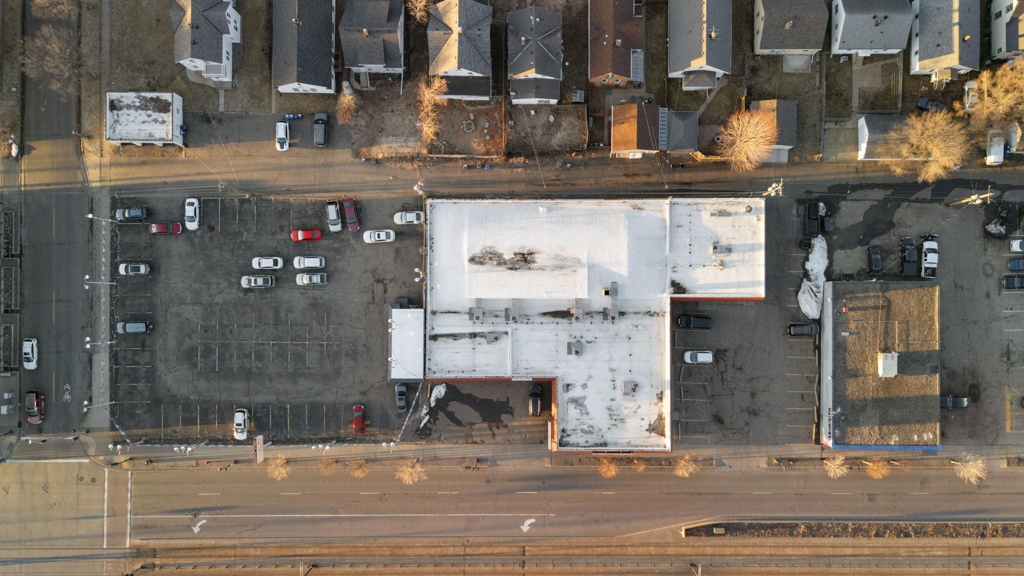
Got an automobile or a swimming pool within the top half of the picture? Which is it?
automobile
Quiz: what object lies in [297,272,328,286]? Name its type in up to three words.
car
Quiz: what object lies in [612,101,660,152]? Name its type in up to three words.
building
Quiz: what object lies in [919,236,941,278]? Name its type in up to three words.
truck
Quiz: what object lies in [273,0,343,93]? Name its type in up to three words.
house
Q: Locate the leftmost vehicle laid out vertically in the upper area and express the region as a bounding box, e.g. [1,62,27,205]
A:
[186,199,201,230]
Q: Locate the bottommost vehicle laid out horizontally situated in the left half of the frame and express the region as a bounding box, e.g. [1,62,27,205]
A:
[119,320,152,335]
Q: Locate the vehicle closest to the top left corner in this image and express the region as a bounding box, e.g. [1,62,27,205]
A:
[118,207,149,222]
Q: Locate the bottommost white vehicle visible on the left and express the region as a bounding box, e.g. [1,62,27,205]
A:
[233,408,250,438]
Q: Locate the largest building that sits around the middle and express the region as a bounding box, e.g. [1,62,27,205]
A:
[425,198,766,454]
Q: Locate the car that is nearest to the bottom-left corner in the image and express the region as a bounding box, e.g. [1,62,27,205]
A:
[26,390,46,423]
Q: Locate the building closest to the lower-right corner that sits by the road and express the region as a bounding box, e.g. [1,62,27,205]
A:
[820,282,943,449]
